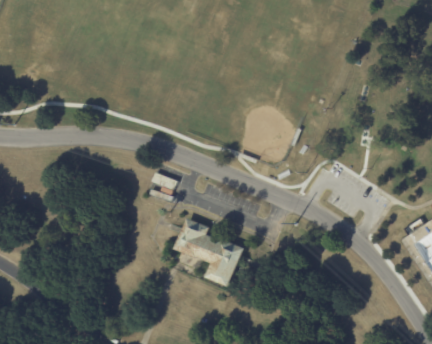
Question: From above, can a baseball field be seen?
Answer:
Yes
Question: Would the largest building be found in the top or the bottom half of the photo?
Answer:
bottom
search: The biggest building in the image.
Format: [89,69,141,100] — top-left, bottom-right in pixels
[173,218,244,286]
